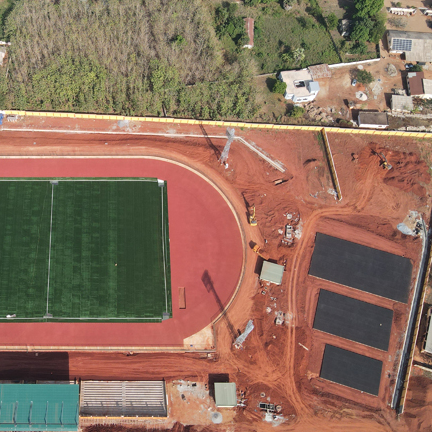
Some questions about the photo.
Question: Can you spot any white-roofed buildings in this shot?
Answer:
Yes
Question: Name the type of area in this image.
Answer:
sports ground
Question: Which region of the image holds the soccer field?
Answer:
left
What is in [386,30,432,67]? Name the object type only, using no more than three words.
house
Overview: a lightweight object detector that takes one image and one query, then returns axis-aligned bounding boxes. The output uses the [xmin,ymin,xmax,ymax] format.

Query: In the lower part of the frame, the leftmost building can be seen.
[213,382,237,406]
